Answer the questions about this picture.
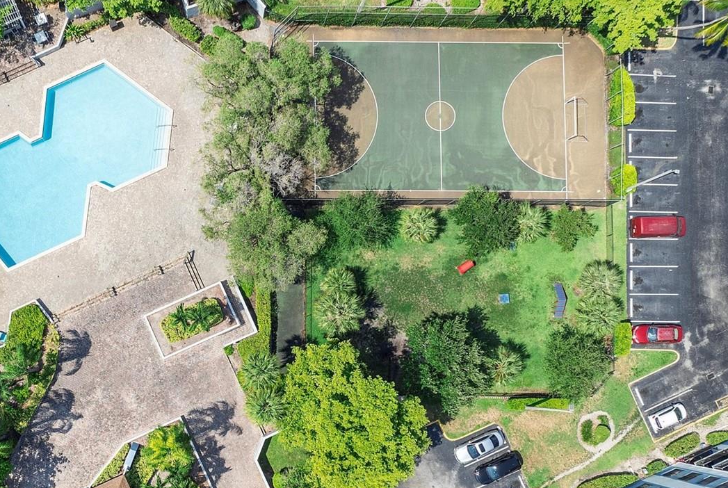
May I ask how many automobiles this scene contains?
5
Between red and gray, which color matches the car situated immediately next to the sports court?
red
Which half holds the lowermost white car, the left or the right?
right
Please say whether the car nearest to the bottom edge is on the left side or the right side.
right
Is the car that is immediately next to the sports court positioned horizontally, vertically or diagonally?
horizontally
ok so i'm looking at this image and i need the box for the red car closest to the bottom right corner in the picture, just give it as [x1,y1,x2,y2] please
[635,324,681,346]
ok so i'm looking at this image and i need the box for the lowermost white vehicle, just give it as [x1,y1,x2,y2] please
[452,428,504,461]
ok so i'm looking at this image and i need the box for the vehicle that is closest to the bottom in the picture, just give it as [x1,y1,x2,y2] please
[470,450,524,484]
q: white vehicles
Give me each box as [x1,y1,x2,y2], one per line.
[643,403,687,433]
[452,428,504,461]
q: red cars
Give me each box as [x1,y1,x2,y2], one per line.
[626,214,685,238]
[635,324,681,346]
